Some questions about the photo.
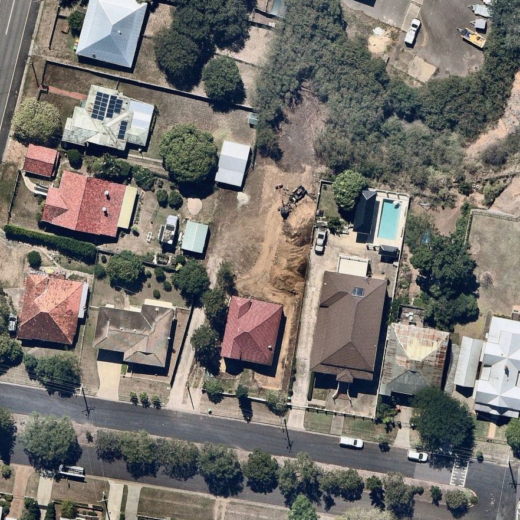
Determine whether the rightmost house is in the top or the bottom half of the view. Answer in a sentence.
The rightmost house sits in the bottom half of the picture.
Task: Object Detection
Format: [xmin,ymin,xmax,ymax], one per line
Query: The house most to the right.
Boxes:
[472,316,520,419]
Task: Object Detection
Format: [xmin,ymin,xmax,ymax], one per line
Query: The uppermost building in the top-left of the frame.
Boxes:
[75,0,148,69]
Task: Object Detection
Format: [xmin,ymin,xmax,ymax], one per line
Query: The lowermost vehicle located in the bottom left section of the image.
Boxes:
[59,464,85,478]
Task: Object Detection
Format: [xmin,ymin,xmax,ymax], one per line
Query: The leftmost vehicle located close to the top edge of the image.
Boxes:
[405,18,420,44]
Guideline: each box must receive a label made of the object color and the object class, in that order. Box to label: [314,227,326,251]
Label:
white vehicle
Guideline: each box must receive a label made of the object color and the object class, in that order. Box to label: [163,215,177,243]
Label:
white vehicle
